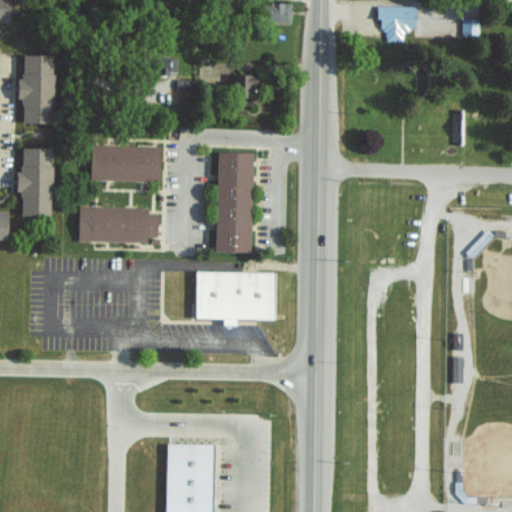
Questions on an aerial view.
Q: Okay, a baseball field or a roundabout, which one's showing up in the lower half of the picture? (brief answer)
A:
baseball field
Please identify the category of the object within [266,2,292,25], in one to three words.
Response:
house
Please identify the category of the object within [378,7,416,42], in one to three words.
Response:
house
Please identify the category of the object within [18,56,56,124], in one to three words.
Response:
building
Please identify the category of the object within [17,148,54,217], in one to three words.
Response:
building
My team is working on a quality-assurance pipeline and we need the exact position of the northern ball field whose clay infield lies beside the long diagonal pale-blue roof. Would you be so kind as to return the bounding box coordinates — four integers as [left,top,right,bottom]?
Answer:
[475,241,512,376]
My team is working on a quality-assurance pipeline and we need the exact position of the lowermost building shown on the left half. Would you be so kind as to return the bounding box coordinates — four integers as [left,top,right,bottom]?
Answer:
[168,443,215,512]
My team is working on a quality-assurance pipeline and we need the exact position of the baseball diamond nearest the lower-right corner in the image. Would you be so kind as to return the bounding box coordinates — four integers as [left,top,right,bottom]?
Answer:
[464,378,512,498]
